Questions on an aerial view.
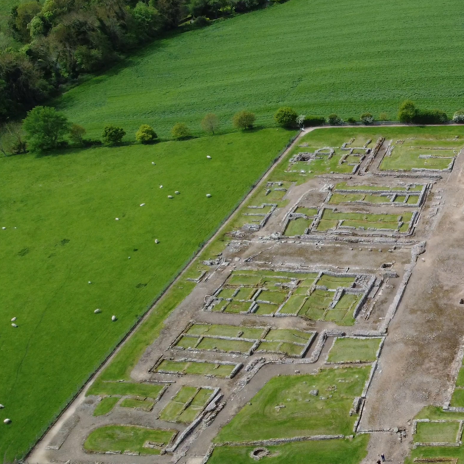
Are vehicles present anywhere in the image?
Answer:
No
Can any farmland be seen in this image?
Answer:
Yes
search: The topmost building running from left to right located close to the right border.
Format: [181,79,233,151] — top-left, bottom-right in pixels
[381,137,463,174]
